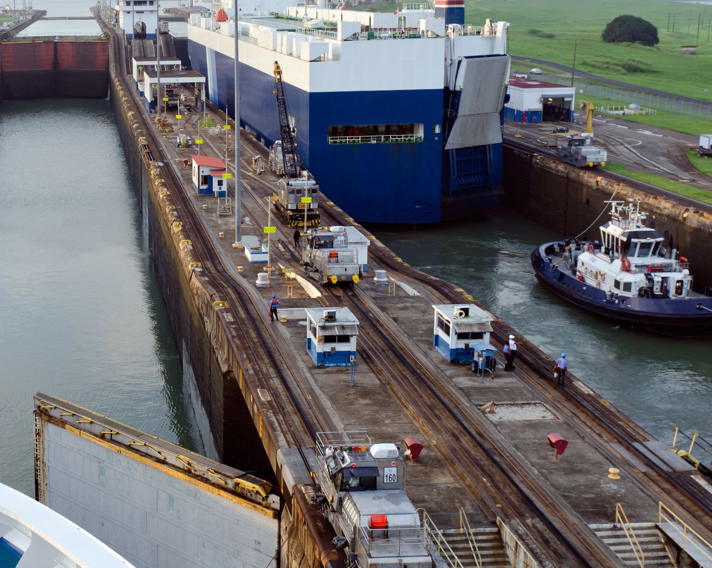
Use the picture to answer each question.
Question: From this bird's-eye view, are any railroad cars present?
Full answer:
Yes, there's a railroad car down there.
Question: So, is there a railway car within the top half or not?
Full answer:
Yes, I can see a railway car within the top half.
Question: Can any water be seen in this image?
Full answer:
Yes, the picture does contain water.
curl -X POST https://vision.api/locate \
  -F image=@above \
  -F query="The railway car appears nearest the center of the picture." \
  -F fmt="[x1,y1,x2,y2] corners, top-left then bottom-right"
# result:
[298,220,357,283]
